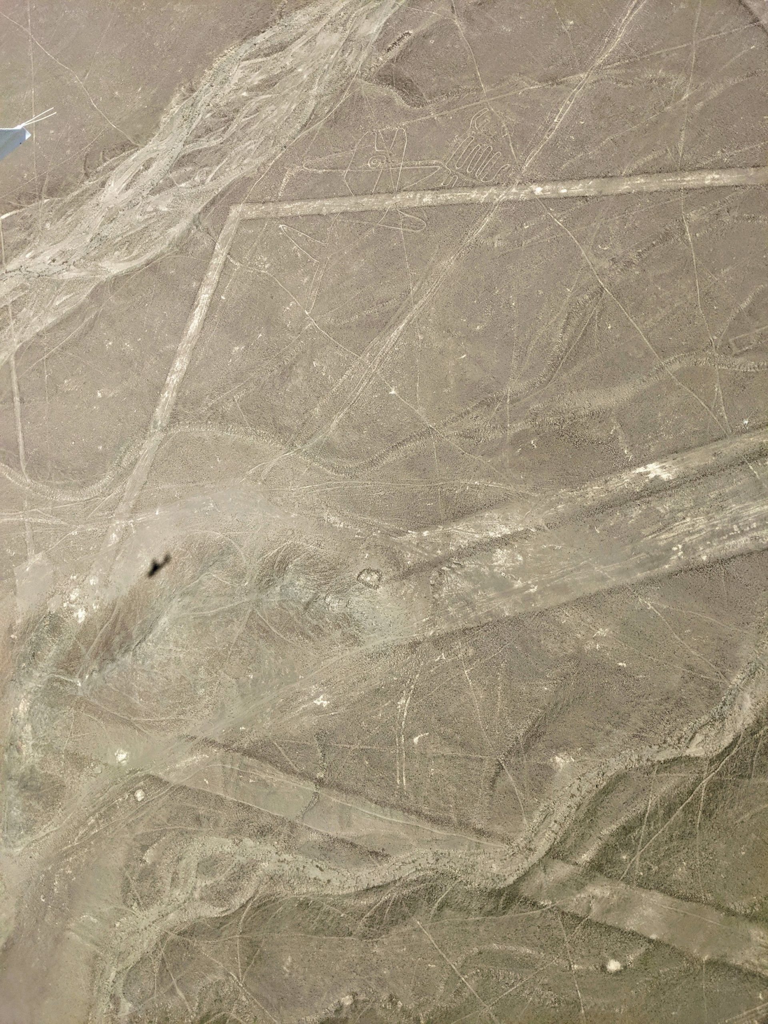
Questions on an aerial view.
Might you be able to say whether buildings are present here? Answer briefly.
No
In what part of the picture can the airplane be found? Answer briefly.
top left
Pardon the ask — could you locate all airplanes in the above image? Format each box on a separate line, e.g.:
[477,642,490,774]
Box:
[0,107,56,163]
